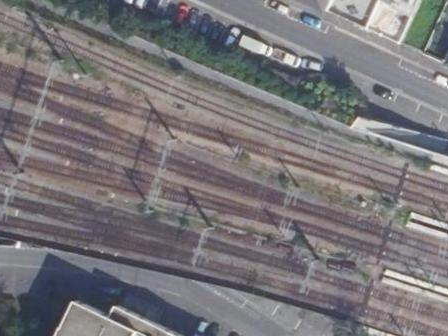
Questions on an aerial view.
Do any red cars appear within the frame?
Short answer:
Yes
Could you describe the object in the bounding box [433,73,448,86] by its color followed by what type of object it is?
white vehicle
